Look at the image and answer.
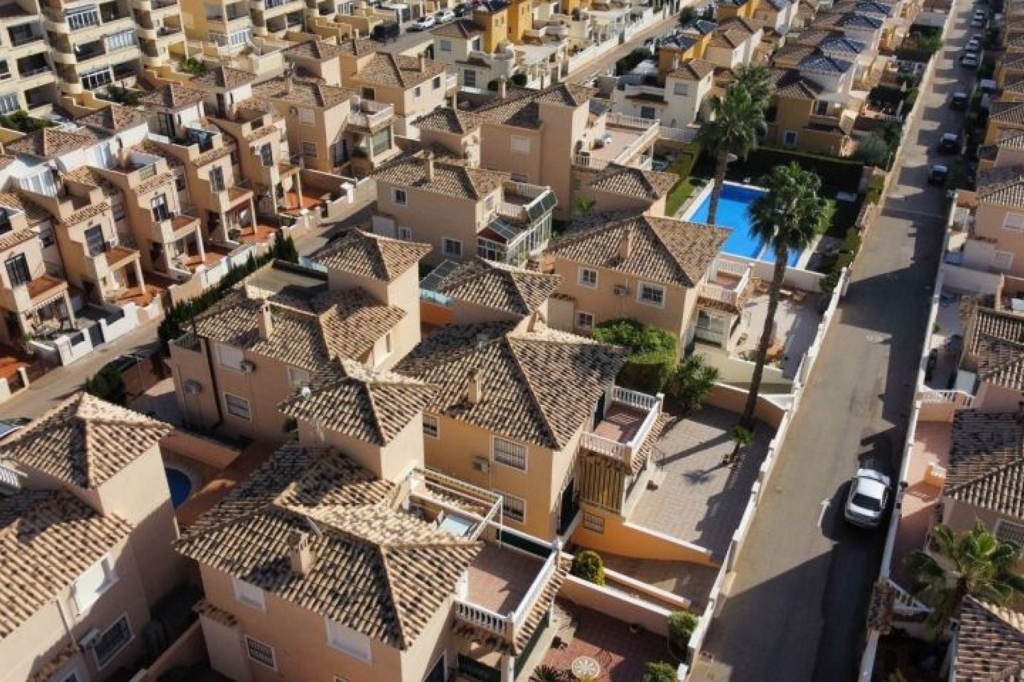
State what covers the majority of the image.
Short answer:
buildings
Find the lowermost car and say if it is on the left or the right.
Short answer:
right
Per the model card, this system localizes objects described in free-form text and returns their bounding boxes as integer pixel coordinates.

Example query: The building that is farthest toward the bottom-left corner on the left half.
[0,395,193,682]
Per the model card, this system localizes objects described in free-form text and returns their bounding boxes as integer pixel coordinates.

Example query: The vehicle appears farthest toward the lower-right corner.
[844,470,889,530]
